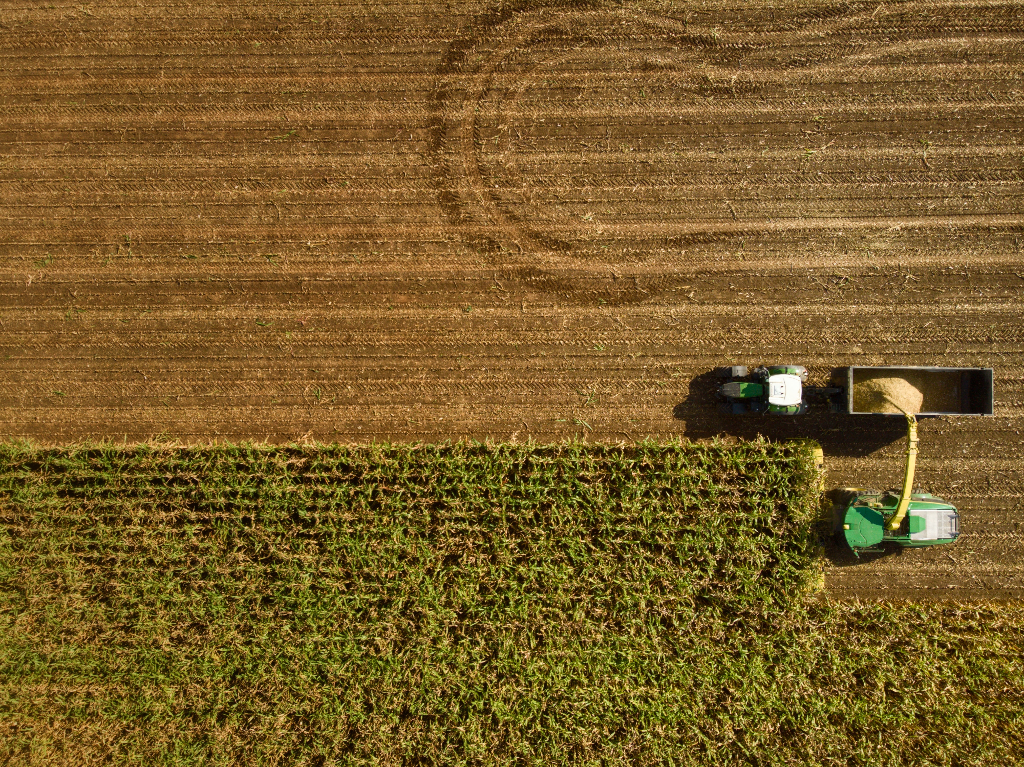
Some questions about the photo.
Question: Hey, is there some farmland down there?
Yes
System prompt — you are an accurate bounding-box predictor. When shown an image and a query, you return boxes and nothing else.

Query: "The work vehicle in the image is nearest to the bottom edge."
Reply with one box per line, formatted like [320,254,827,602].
[777,412,960,598]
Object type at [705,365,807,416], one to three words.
work vehicle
